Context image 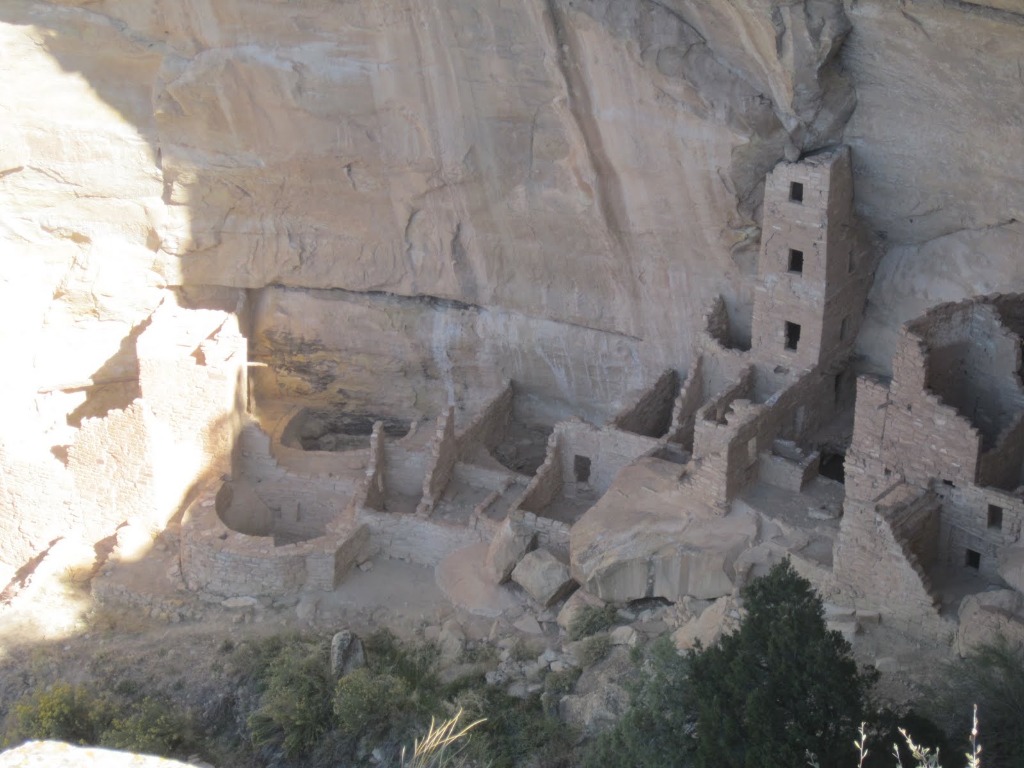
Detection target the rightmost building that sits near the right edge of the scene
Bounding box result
[840,292,1024,611]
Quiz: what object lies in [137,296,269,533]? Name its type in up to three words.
house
